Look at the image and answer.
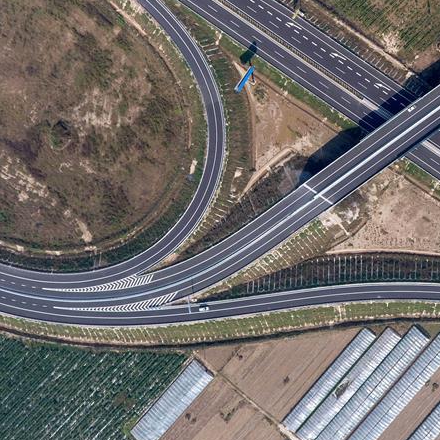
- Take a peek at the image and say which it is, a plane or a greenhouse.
greenhouse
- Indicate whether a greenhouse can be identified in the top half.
No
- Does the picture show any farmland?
Yes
